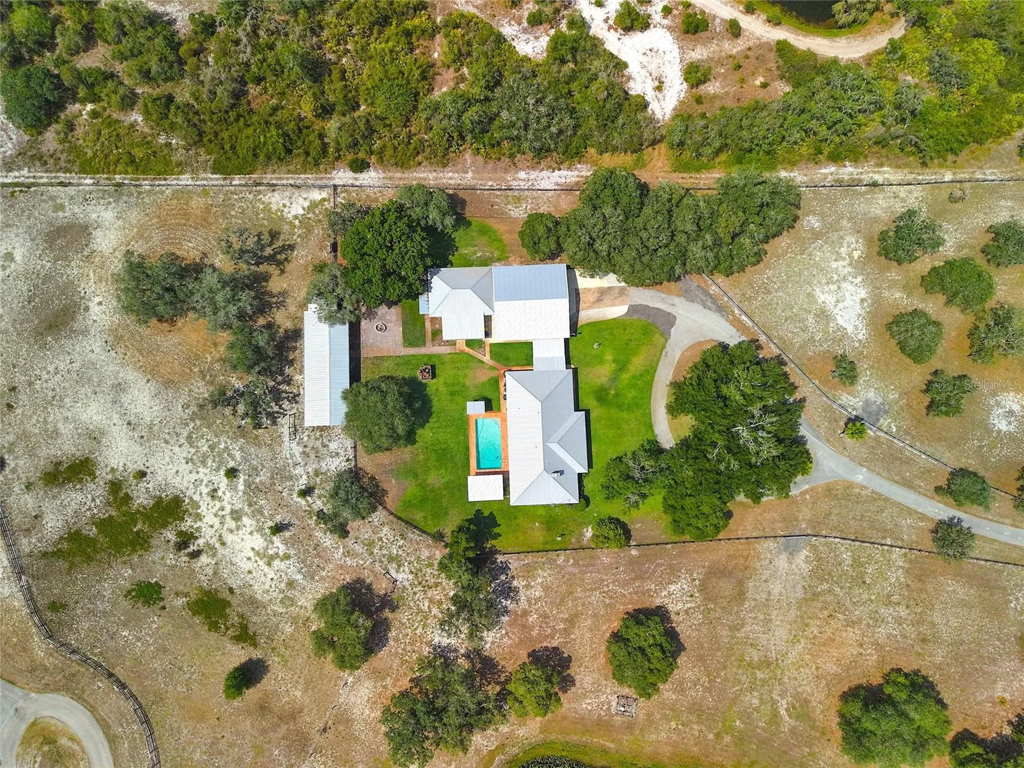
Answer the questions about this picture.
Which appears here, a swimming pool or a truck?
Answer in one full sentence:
Visible in the photo is a swimming pool.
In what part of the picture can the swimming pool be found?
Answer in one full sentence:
The swimming pool sits in the center section of the image.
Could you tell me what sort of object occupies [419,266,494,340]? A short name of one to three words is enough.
house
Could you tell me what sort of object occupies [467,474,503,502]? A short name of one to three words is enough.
building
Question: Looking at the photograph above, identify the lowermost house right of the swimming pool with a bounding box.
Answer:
[505,369,588,506]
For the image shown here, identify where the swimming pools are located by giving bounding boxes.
[474,416,506,471]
